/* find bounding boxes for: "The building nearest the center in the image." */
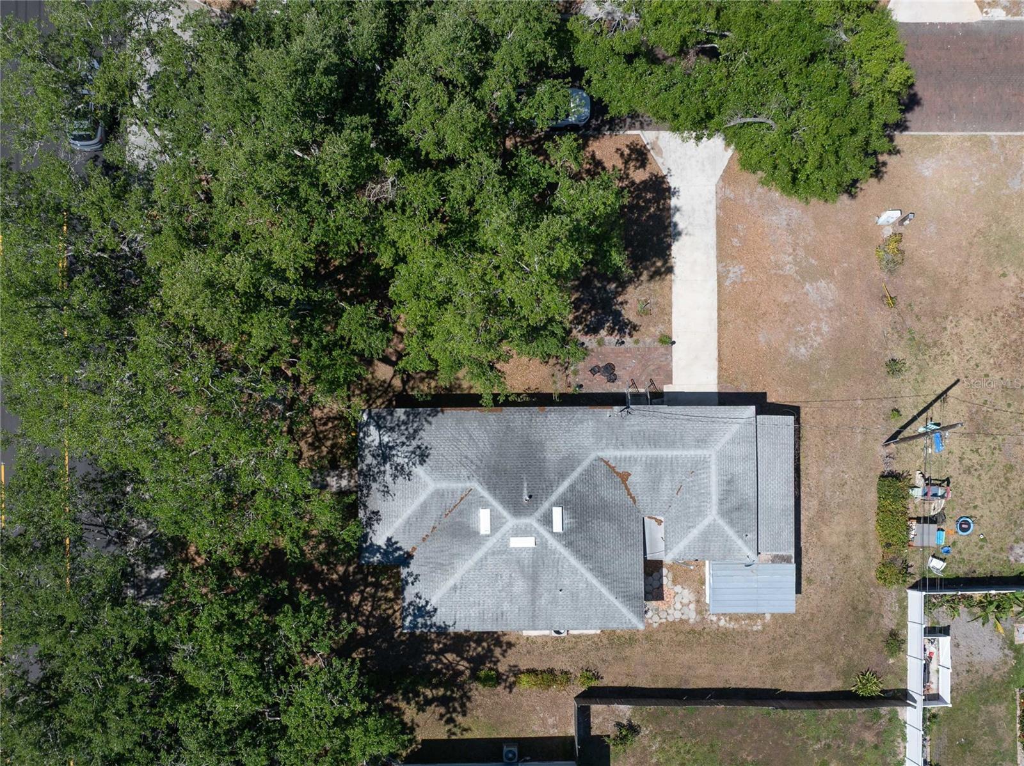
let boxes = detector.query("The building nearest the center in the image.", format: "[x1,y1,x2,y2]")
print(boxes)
[359,381,796,635]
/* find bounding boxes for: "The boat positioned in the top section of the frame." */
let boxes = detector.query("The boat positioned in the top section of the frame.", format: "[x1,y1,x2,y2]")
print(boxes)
[878,210,902,225]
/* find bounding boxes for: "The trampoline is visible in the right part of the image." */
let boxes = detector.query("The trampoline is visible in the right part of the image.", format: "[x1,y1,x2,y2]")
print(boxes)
[955,518,976,535]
